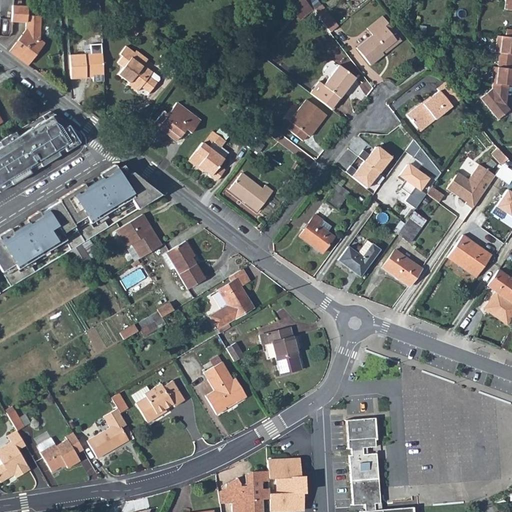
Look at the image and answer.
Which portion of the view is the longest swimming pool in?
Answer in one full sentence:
The longest swimming pool appears toward the left of the photo.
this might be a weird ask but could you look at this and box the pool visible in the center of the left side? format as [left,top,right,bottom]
[120,266,148,290]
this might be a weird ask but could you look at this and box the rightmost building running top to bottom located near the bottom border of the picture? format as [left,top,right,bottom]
[342,418,384,505]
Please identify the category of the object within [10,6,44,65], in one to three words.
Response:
house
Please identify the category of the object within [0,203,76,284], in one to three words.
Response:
building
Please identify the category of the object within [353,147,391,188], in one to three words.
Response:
house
